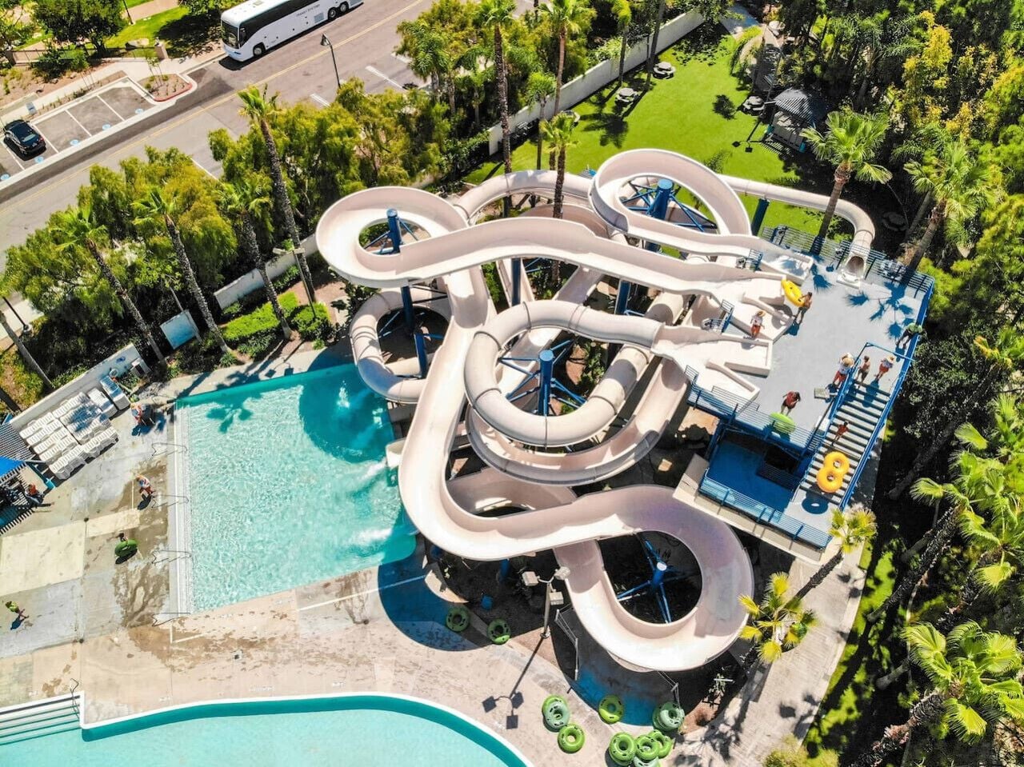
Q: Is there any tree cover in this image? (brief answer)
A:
Yes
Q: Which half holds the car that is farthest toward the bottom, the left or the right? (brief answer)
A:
left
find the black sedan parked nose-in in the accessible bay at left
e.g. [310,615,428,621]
[0,119,45,157]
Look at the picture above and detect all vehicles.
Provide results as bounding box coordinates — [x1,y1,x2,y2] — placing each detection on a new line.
[209,0,361,59]
[0,119,45,157]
